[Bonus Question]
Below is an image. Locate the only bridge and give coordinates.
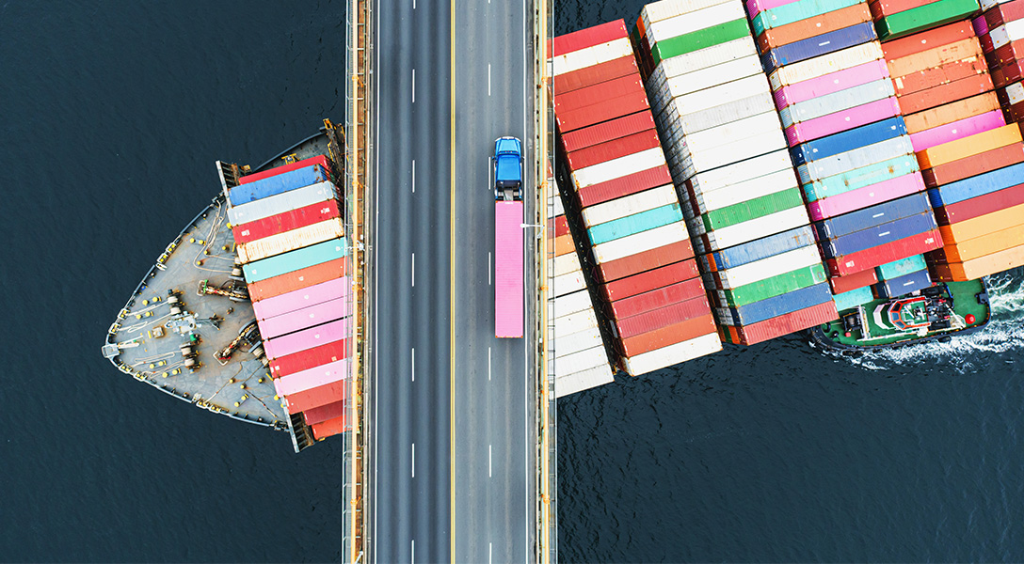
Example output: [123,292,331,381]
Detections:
[342,0,558,564]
